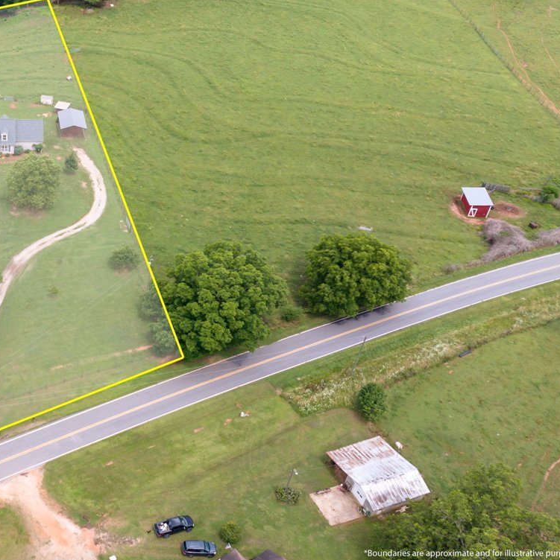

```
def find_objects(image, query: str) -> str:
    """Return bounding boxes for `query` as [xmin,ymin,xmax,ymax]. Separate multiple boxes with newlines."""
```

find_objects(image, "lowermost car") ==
[182,541,217,559]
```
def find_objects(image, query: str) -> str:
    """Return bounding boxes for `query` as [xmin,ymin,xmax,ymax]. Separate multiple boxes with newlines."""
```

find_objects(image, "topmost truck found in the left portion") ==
[153,516,194,538]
